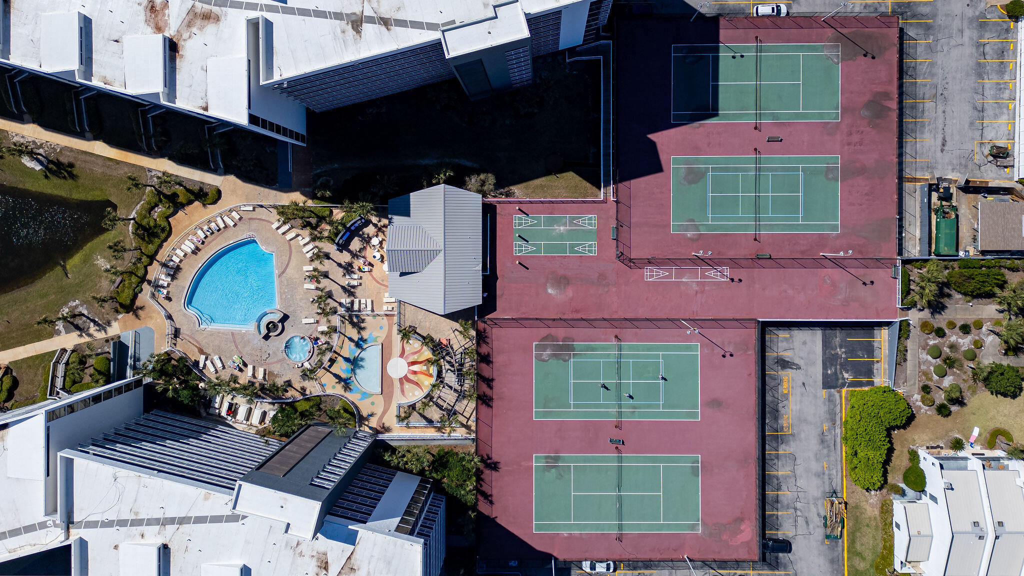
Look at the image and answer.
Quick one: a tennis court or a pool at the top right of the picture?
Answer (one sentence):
The feature located at the top right of the picture is a tennis court.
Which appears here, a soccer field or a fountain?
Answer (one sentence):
It is a fountain that can be seen here.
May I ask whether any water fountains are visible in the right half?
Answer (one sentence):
No, the scene shows no water fountain in the right half.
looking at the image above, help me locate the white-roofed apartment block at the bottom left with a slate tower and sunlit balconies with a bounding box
[0,376,445,576]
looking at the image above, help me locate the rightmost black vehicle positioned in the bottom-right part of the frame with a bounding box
[758,538,792,555]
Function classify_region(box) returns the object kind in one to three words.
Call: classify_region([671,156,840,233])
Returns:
tennis court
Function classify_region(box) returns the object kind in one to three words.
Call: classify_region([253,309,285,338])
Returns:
fountain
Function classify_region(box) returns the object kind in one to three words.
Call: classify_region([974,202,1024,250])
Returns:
building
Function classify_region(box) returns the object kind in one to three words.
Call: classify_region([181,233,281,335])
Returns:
swimming pool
